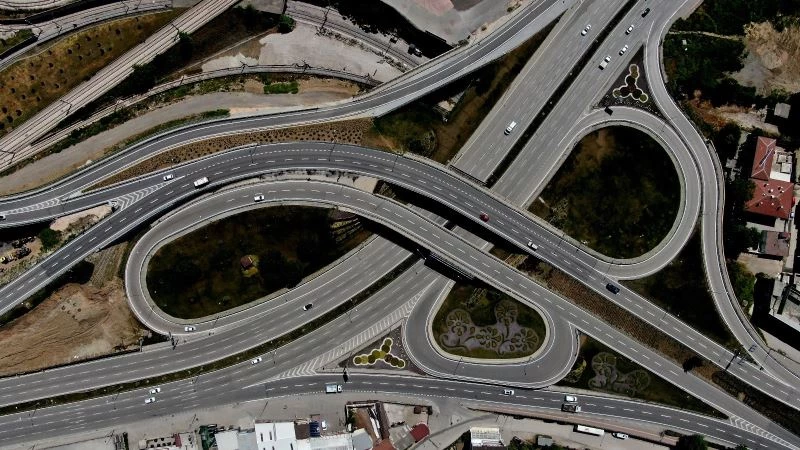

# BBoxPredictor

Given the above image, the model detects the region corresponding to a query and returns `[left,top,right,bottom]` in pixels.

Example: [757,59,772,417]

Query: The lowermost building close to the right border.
[748,276,800,338]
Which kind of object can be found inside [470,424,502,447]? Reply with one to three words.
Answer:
building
